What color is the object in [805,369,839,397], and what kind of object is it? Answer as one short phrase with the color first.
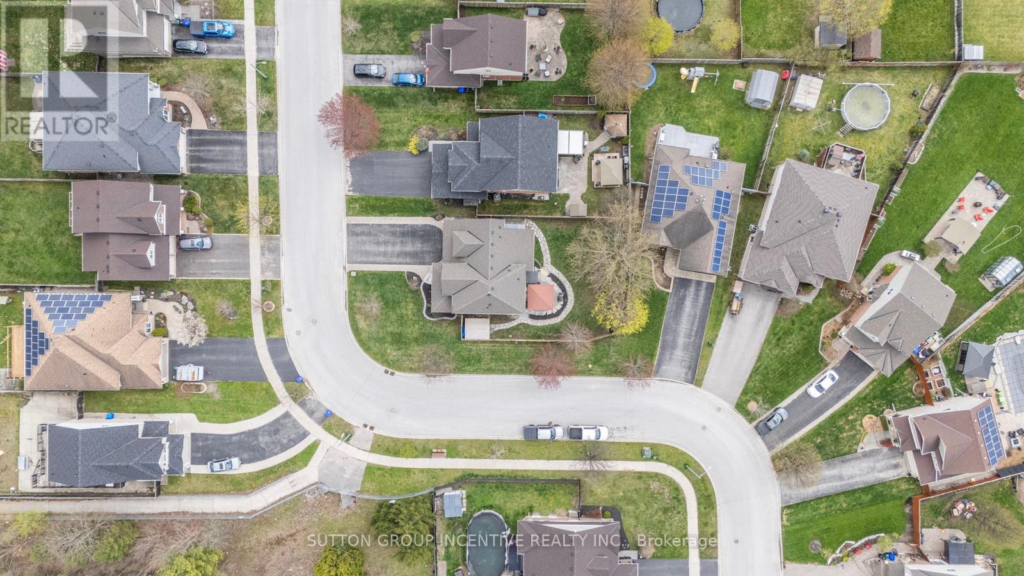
white car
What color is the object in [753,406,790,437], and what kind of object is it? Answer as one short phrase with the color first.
gray truck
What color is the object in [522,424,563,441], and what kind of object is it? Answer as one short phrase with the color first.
white vehicle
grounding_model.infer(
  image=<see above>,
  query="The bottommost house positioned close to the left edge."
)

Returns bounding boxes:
[47,420,189,488]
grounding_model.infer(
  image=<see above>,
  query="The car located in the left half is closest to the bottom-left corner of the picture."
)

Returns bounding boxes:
[207,456,242,473]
